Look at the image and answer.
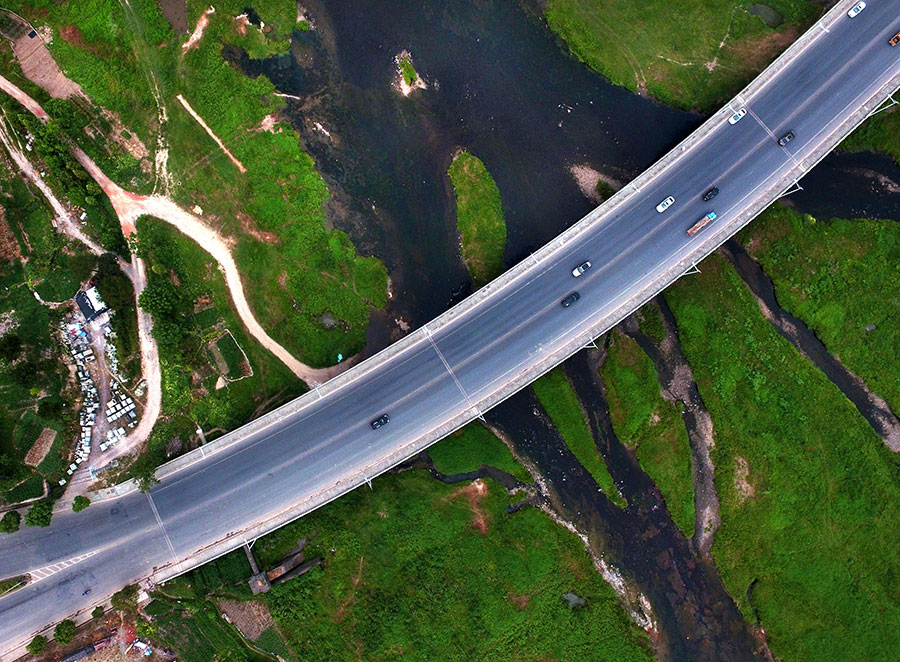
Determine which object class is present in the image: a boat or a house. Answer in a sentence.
This aerial view contains a house.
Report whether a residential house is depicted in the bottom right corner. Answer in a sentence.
No, there is no residential house in the bottom right corner.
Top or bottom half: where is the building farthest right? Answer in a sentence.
The building farthest right sits in the bottom half of the picture.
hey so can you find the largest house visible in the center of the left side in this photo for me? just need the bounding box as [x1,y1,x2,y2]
[70,286,104,322]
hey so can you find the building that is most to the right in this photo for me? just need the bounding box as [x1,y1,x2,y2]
[246,574,269,600]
